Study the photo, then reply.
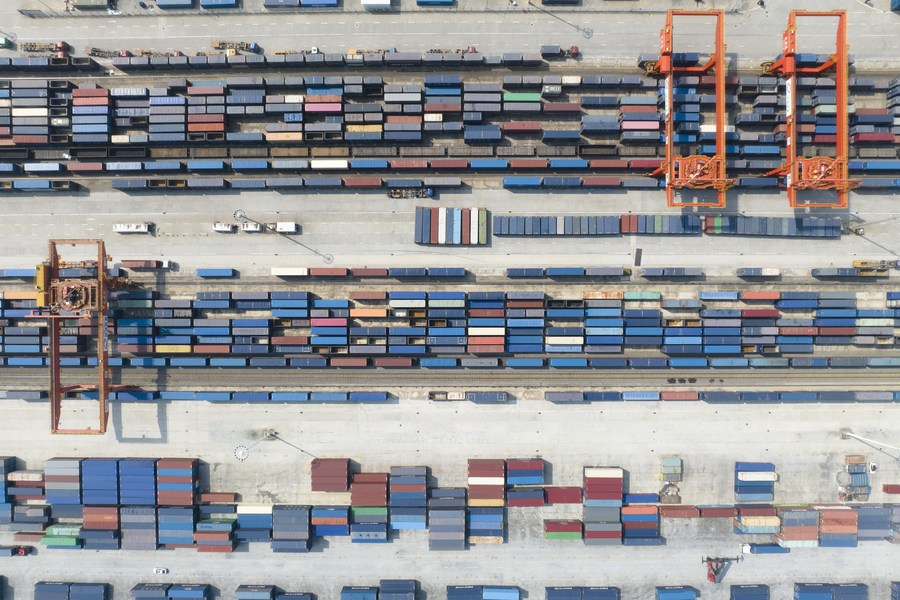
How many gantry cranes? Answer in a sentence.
I count 3 gantry cranes.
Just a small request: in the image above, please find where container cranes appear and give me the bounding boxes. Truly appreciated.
[22,238,152,435]
[747,9,861,209]
[635,8,738,209]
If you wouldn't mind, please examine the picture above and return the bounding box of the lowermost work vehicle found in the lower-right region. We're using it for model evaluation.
[704,562,748,589]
